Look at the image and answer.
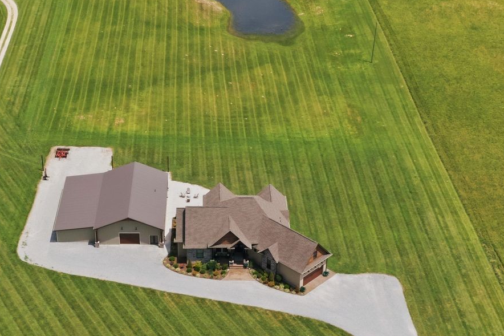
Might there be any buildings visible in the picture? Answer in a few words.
Yes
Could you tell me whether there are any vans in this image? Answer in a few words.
No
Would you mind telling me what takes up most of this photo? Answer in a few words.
grass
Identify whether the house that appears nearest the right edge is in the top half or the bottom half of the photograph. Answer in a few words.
bottom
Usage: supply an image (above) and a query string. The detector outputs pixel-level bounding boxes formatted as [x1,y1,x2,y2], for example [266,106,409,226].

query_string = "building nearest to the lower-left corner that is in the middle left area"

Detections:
[54,161,170,245]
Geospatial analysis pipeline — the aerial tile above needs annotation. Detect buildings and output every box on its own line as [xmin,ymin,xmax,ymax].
[174,183,333,287]
[54,161,170,245]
